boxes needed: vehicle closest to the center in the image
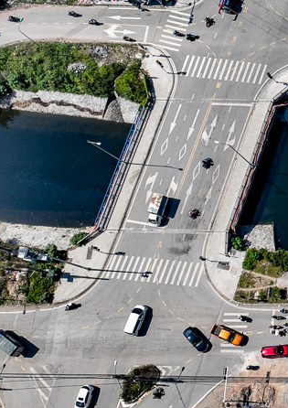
[147,191,168,227]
